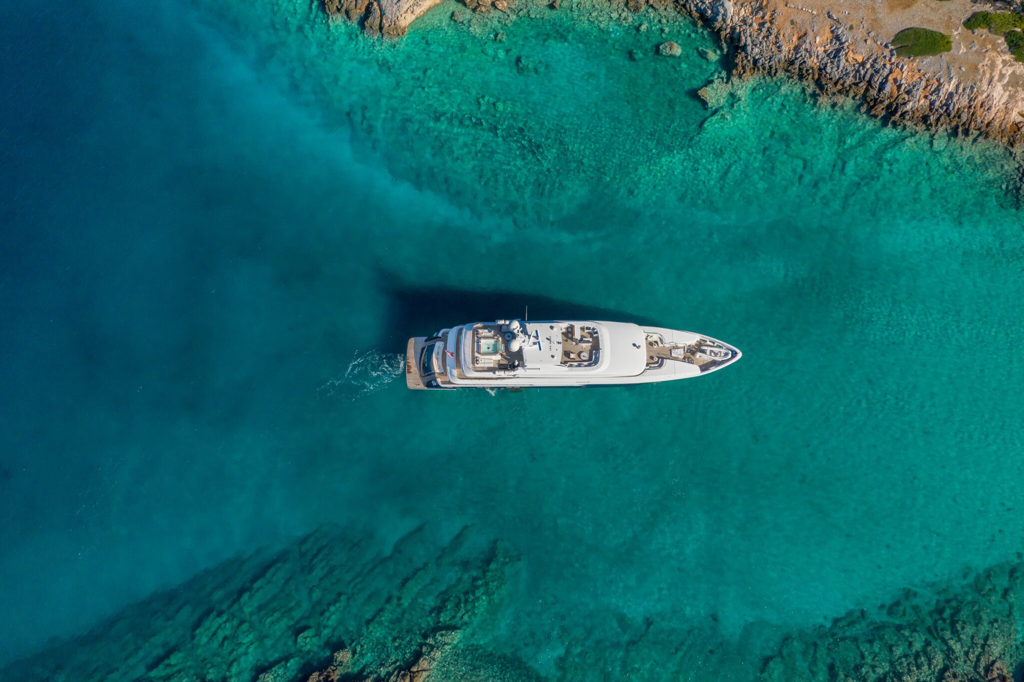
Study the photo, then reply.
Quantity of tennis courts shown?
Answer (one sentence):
The photo contains no tennis courts.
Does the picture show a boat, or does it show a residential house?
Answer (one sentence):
Visible in the photo is a boat.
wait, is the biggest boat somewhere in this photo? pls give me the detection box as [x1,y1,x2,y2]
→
[406,316,743,393]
